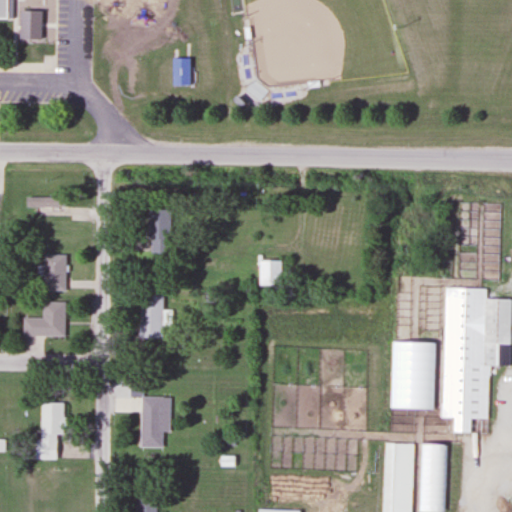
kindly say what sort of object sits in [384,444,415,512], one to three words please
shed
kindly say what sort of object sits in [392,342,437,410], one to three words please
greenhouse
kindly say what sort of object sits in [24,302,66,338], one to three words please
house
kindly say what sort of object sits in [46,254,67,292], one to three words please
house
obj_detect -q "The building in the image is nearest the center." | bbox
[258,254,282,287]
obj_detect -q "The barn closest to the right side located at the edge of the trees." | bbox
[441,288,512,434]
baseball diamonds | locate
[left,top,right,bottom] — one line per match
[249,0,408,86]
